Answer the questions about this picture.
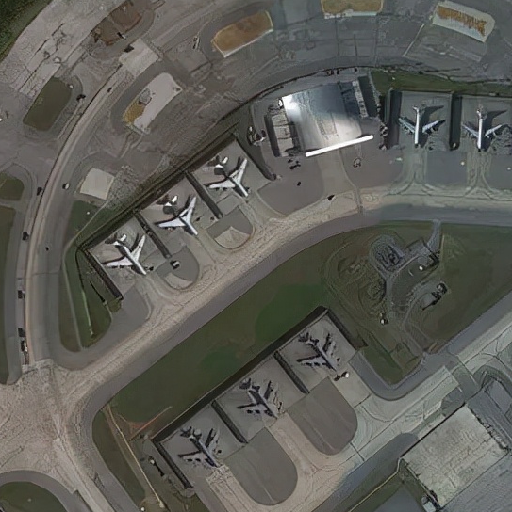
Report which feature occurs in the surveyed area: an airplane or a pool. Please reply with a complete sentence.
This aerial view contains an airplane.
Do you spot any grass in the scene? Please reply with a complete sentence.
Yes, some grass is visible.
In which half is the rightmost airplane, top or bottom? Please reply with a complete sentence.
It is in the top half that the rightmost airplane appears.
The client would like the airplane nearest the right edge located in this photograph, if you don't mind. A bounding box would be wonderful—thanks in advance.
[460,110,500,150]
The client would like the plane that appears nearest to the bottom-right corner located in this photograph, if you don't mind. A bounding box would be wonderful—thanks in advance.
[298,332,337,371]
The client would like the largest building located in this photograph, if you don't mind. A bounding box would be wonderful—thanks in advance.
[280,83,372,156]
